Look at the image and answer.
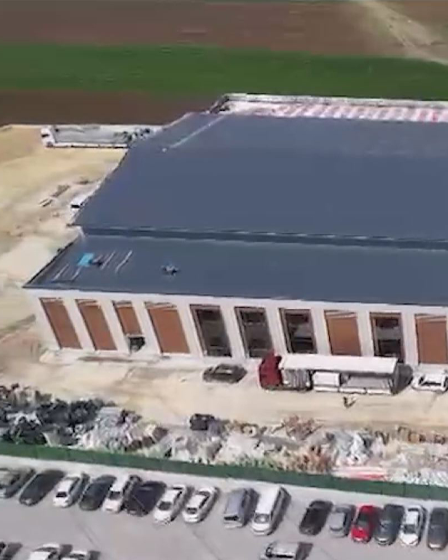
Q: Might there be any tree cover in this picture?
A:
No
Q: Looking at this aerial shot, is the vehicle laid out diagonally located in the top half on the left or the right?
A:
left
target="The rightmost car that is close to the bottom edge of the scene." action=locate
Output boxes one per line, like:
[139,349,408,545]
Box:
[424,504,448,553]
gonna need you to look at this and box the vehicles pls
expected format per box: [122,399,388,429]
[412,372,448,393]
[219,480,263,534]
[253,344,401,394]
[76,474,118,513]
[350,502,382,544]
[49,471,93,509]
[201,363,247,385]
[124,474,169,519]
[399,502,427,548]
[298,497,332,539]
[424,504,448,553]
[152,481,193,525]
[64,193,95,215]
[326,500,358,542]
[16,465,66,508]
[0,461,38,503]
[248,482,291,537]
[100,473,143,516]
[375,502,404,548]
[255,540,309,560]
[180,483,220,527]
